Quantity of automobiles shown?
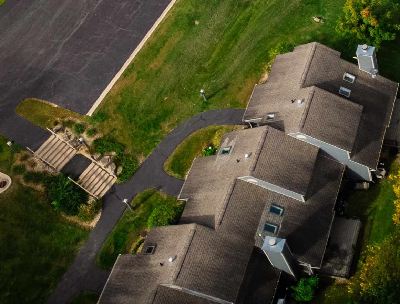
0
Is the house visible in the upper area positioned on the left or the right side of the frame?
right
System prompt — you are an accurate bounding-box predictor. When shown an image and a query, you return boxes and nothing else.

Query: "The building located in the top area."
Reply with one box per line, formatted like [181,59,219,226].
[240,43,399,181]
